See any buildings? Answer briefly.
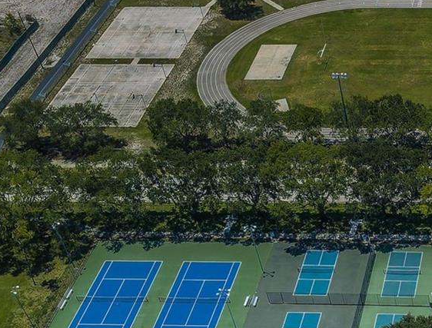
No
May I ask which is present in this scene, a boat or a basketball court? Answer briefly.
basketball court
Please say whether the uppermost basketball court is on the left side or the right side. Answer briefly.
left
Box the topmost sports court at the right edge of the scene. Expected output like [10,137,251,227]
[382,251,422,297]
